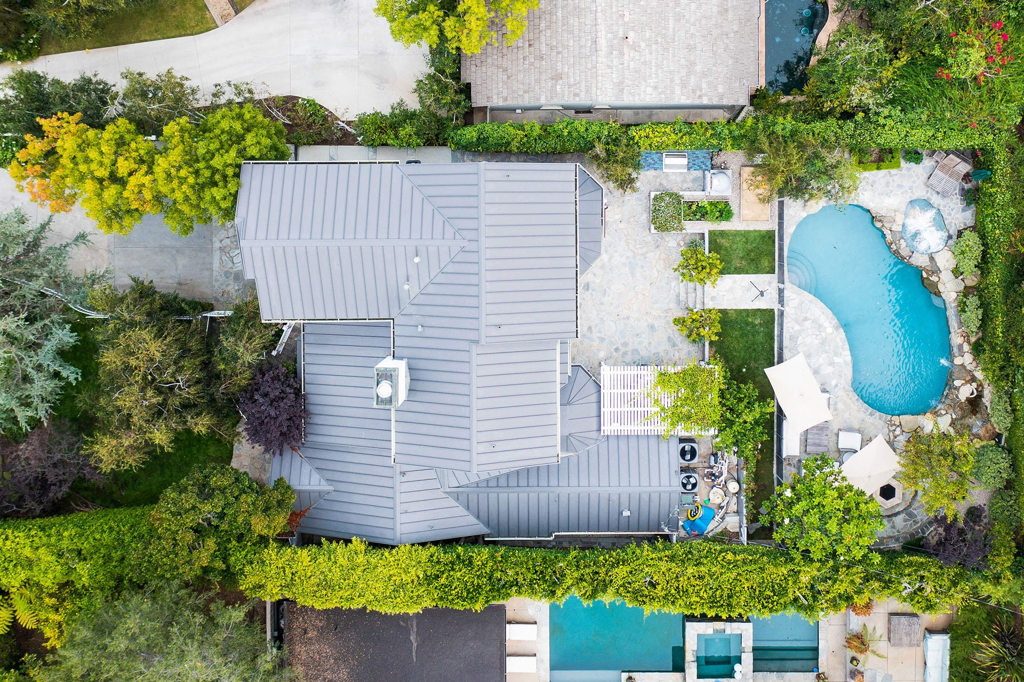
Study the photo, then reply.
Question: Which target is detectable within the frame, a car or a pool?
pool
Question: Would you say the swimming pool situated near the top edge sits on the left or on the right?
right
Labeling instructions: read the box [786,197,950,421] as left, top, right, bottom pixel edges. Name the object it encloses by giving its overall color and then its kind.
blue swimming pool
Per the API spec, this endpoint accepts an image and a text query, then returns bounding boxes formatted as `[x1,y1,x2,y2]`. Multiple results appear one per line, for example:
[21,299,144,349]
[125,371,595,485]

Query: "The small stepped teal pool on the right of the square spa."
[750,581,818,673]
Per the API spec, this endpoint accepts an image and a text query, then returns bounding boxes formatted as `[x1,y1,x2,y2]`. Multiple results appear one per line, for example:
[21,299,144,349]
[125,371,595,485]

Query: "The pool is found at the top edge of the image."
[765,0,830,99]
